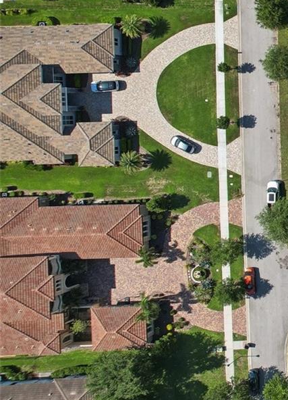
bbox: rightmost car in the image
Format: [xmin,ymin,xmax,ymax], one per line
[266,180,279,206]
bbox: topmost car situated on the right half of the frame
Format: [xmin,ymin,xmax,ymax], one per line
[169,136,195,154]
